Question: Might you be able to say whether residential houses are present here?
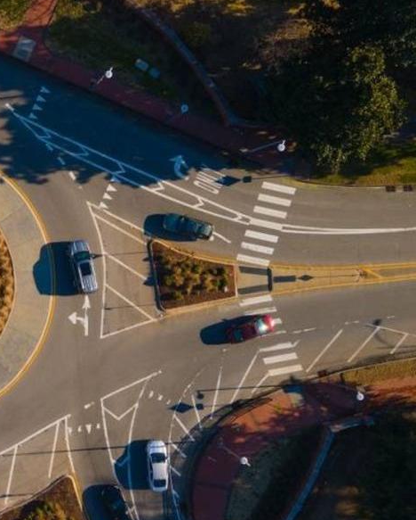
No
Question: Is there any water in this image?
No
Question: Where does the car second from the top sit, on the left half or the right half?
left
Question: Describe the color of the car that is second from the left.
black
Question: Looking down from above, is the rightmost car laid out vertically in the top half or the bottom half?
bottom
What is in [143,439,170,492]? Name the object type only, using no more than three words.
car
